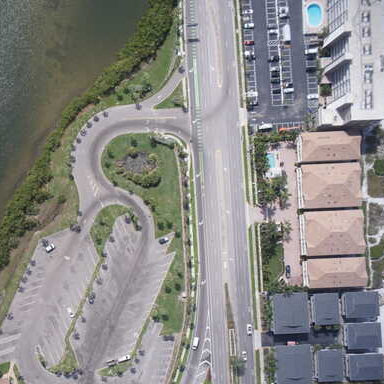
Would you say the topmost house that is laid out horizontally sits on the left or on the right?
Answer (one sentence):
The topmost house that is laid out horizontally is on the right side of the image.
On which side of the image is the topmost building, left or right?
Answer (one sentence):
The topmost building is on the right side of the image.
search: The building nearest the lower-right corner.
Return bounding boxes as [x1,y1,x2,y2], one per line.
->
[341,352,383,381]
